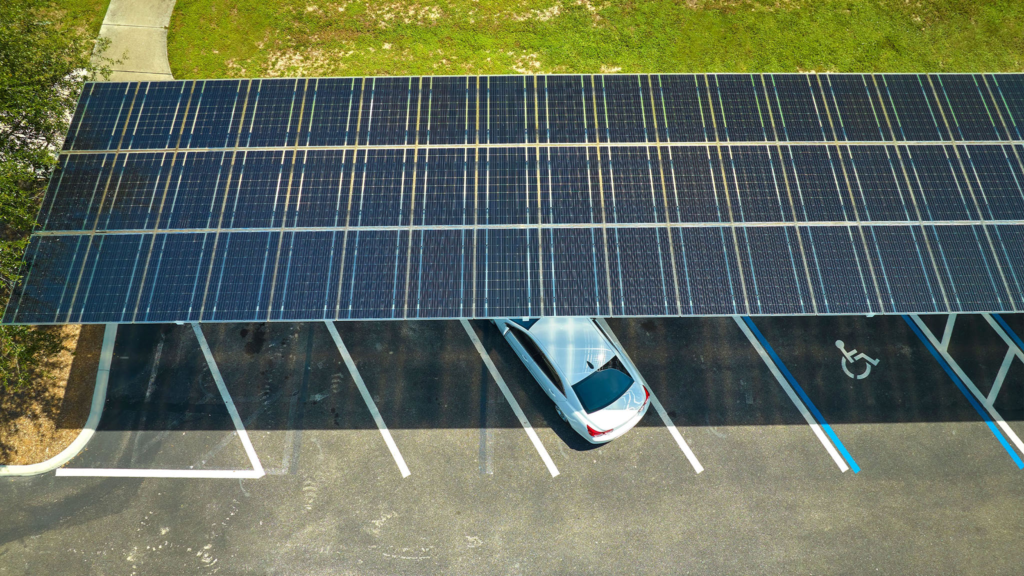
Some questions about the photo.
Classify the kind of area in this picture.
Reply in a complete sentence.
What you see here is a solar farm.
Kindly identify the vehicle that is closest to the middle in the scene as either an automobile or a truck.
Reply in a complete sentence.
It turns out the vehicle that is closest to the middle is an automobile.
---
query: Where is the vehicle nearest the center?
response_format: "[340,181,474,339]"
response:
[488,317,648,444]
